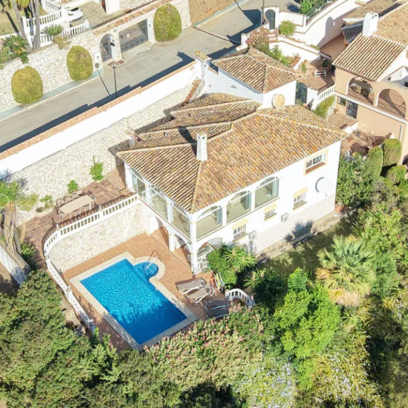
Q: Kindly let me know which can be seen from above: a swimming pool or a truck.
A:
swimming pool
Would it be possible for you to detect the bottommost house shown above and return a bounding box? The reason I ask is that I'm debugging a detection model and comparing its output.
[114,90,349,263]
